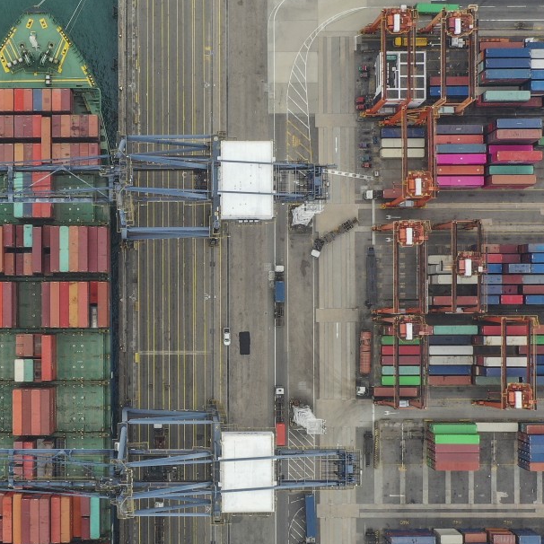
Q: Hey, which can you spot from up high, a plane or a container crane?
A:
container crane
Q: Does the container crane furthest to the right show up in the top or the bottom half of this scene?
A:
bottom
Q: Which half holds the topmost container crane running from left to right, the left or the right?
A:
left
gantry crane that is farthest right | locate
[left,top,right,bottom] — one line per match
[468,314,537,414]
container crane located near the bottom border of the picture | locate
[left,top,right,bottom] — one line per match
[0,400,361,519]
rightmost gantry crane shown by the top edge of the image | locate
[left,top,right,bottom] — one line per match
[414,3,479,114]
